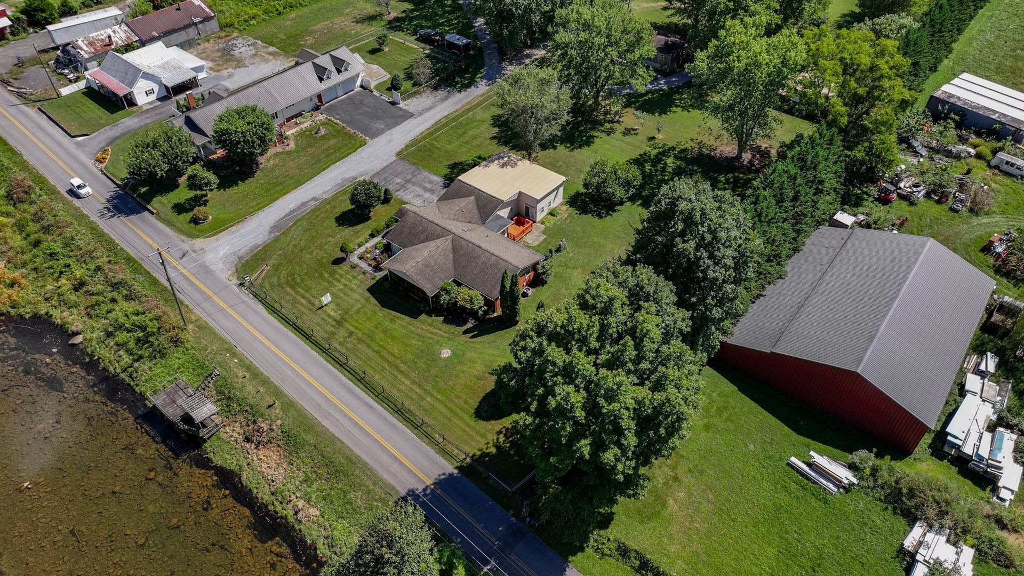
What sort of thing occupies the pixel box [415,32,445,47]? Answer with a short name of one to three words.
vehicle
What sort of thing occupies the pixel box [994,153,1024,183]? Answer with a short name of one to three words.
van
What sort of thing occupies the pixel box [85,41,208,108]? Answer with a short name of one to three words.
house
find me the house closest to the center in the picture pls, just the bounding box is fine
[380,151,572,310]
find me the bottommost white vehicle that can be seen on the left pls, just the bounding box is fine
[69,177,95,199]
